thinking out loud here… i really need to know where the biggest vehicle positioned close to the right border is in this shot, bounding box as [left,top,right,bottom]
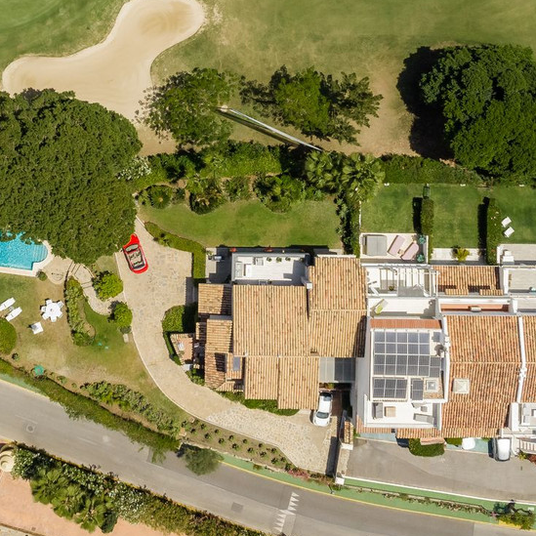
[494,438,518,464]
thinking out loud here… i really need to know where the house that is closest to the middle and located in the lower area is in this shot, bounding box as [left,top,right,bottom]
[193,245,368,409]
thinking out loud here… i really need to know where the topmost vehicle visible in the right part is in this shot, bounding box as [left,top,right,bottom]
[313,390,336,431]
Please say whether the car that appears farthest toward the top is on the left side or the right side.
left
